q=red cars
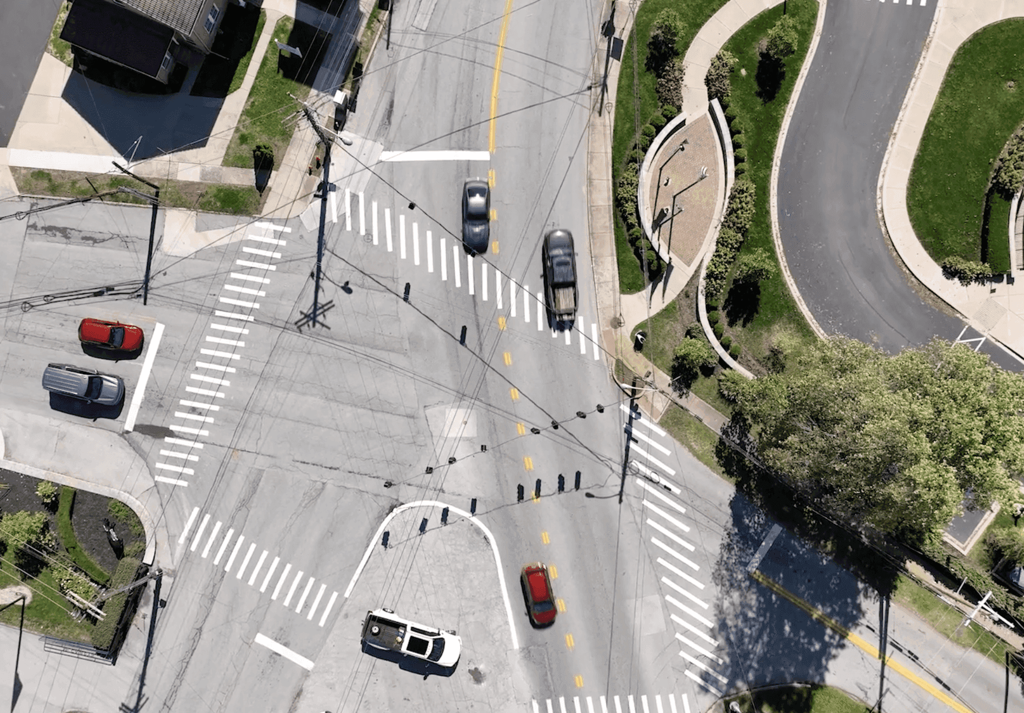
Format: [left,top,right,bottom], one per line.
[520,559,558,626]
[75,316,145,355]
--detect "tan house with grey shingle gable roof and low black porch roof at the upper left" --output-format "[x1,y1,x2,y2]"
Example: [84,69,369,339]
[55,0,232,82]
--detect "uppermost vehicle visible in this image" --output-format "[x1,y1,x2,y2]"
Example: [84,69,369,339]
[457,179,495,254]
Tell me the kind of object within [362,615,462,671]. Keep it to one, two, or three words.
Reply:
truck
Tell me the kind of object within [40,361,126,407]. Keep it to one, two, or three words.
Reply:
car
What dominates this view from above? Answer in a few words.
paved ground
